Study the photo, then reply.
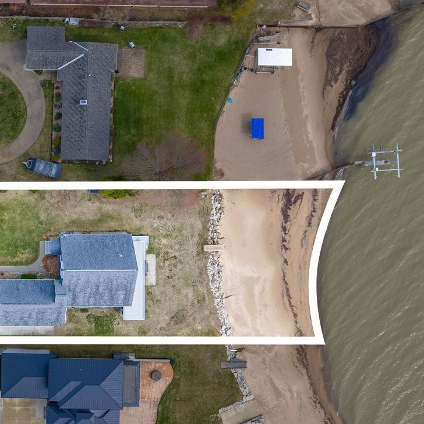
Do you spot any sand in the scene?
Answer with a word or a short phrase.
Yes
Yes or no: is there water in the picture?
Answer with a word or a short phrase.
Yes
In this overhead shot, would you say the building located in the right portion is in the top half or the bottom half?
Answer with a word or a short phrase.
top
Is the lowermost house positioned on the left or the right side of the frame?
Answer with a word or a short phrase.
left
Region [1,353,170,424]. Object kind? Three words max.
house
